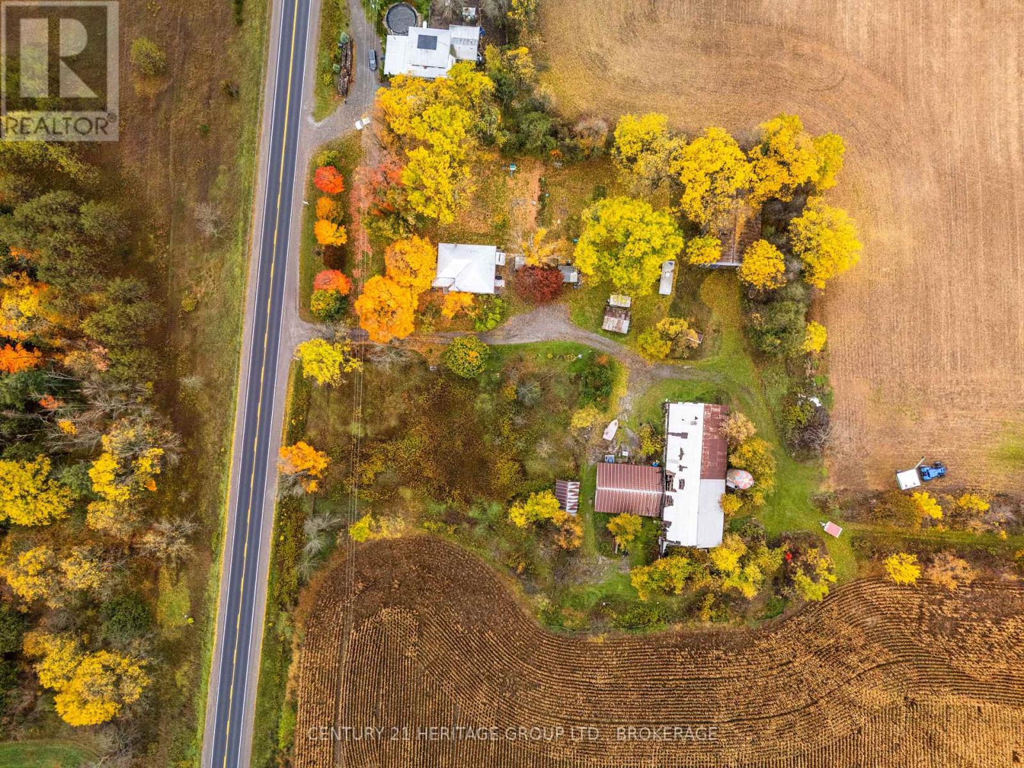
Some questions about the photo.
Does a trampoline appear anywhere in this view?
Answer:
No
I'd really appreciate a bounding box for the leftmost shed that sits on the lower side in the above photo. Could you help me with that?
[556,480,578,515]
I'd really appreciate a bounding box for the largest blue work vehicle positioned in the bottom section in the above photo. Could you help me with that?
[919,463,950,482]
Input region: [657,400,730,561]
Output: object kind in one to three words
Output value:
barn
